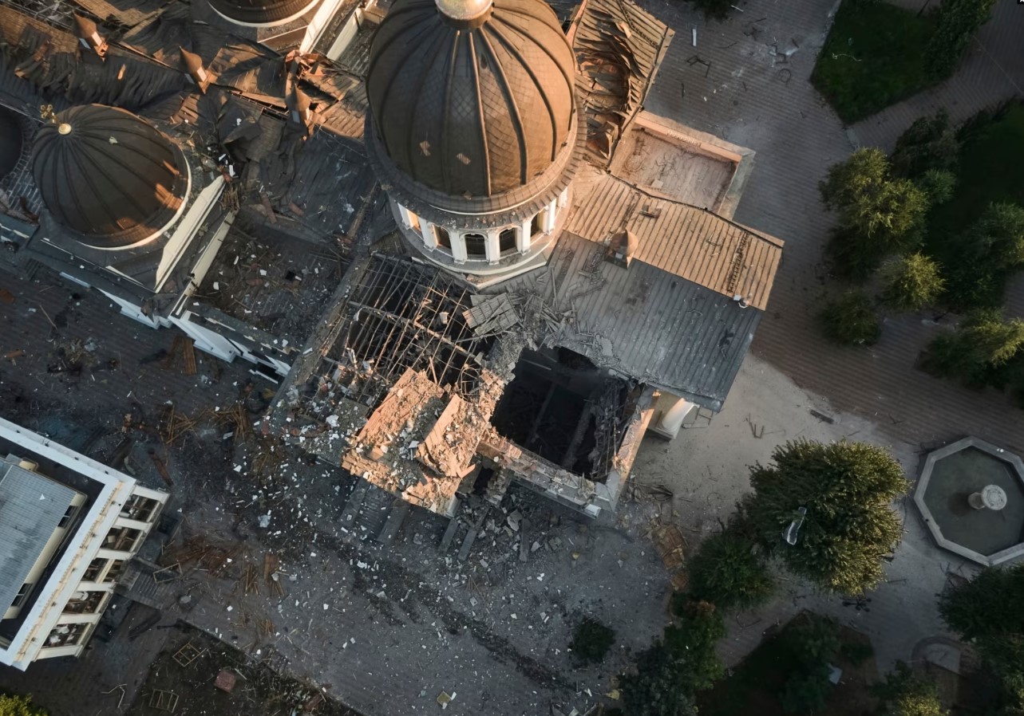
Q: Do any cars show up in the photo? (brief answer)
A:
No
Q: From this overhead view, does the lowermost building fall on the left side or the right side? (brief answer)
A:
left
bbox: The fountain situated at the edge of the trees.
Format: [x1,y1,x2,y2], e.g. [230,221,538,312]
[912,436,1024,569]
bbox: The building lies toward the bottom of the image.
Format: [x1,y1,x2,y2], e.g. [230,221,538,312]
[0,422,190,666]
